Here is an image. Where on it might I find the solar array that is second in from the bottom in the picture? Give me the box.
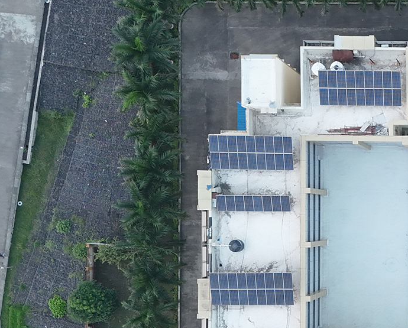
[216,196,289,213]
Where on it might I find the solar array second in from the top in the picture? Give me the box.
[208,135,293,171]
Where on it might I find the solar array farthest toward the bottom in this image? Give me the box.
[210,273,293,308]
